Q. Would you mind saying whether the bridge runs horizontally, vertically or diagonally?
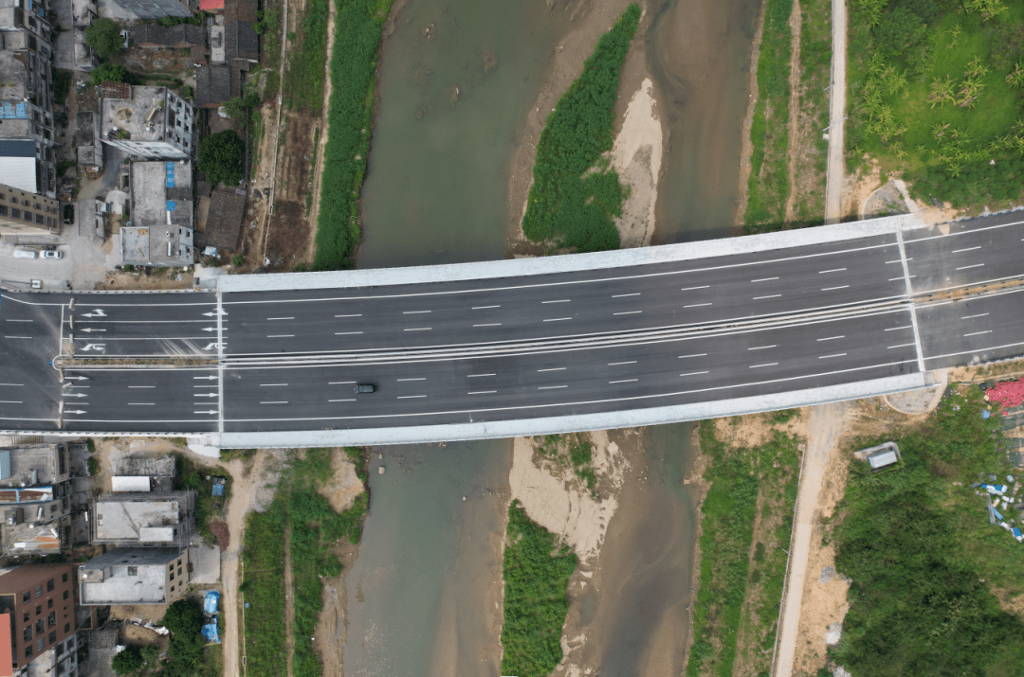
horizontally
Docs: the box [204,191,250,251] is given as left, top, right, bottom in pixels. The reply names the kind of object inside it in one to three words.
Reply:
house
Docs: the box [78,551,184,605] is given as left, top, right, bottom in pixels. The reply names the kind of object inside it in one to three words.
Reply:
house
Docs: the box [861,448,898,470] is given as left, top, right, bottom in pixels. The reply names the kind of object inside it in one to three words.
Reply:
shed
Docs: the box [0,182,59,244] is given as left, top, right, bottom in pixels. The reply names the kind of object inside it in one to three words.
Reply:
building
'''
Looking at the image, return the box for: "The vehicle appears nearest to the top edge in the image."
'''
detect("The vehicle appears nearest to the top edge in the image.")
[60,203,73,225]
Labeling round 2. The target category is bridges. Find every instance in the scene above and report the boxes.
[217,214,926,451]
